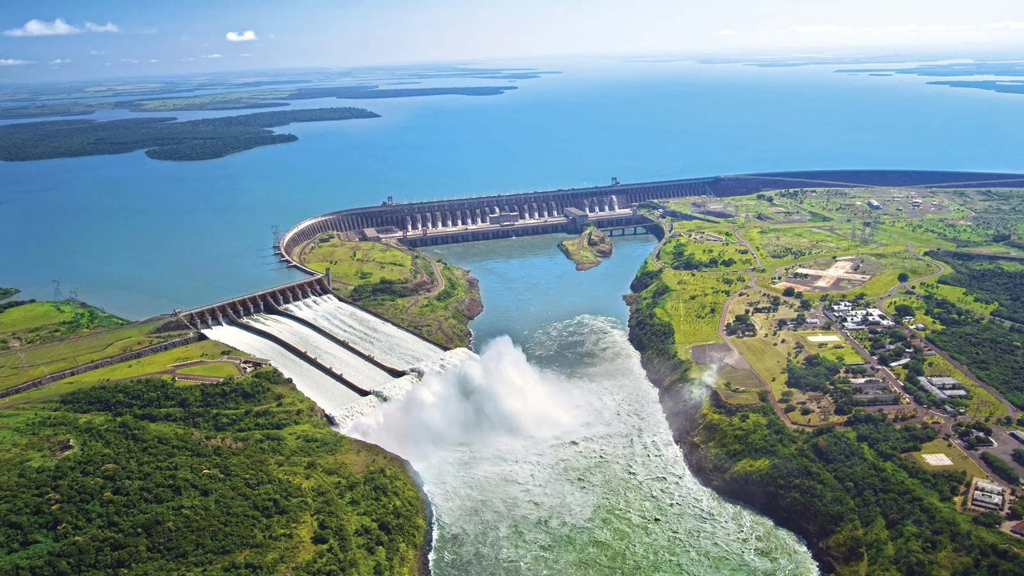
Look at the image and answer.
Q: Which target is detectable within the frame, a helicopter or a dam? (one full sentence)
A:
This aerial view contains a dam.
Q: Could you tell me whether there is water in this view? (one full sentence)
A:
Yes, the picture does contain water.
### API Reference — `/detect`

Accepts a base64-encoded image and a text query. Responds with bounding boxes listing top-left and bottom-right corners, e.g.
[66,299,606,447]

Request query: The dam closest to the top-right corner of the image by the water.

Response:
[717,169,1024,195]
